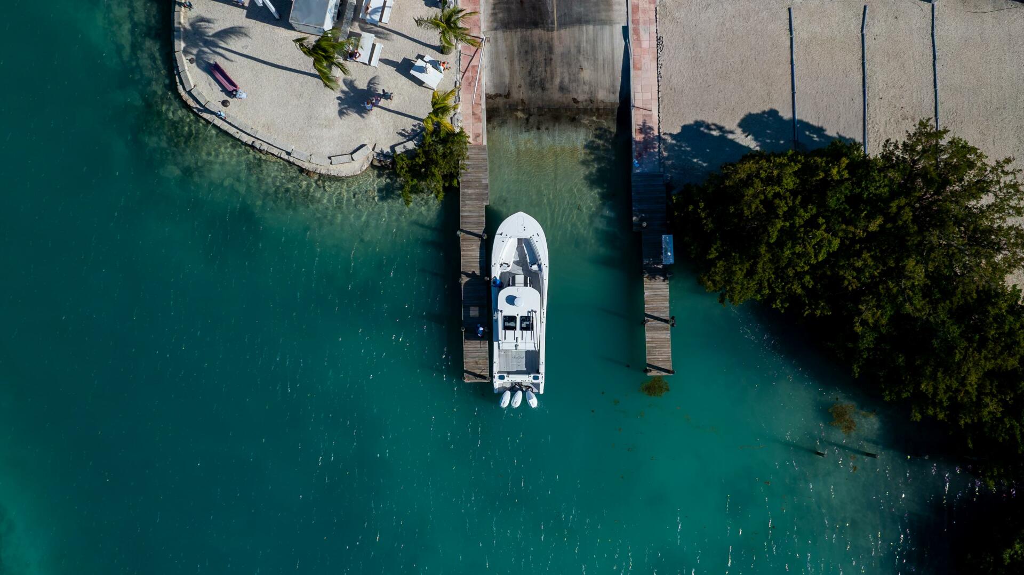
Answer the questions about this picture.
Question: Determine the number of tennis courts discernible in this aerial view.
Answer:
0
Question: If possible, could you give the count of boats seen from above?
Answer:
1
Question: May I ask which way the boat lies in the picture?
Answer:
up and down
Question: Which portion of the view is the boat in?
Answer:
center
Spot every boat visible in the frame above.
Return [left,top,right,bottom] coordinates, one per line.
[491,211,549,408]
